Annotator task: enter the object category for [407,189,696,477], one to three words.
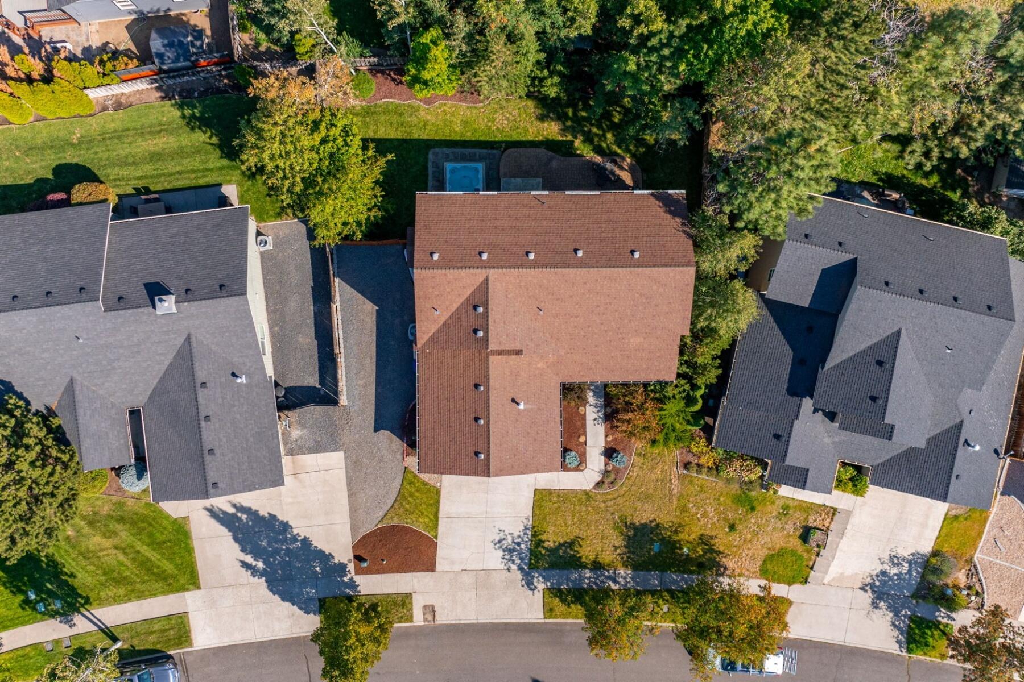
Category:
house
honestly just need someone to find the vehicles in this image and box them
[706,642,796,682]
[103,652,184,682]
